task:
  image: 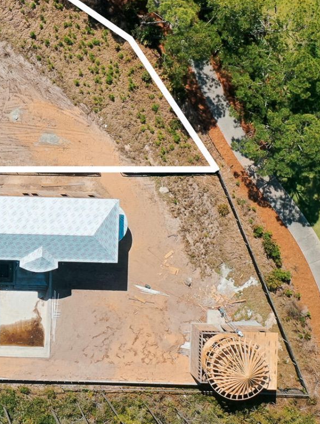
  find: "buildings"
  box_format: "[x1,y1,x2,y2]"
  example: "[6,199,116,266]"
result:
[0,190,128,274]
[192,310,281,401]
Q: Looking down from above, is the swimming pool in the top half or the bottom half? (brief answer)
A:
bottom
